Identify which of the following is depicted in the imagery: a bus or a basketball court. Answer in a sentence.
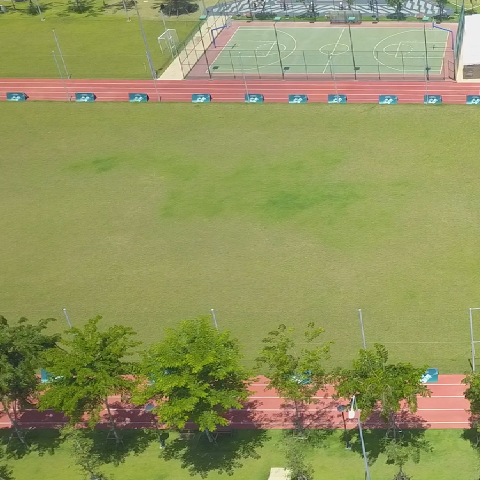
This aerial view contains a basketball court.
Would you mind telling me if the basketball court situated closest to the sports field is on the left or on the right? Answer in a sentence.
The basketball court situated closest to the sports field is on the right side of the image.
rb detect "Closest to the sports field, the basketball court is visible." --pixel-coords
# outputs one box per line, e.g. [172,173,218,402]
[184,20,457,80]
